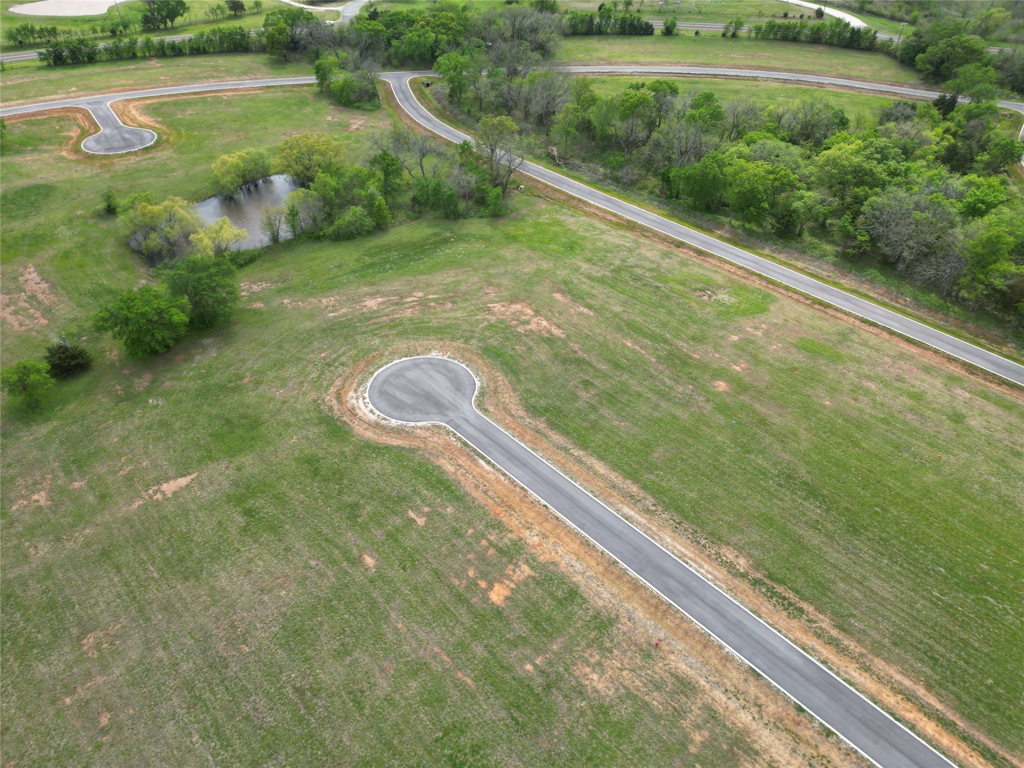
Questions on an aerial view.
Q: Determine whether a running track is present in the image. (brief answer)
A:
No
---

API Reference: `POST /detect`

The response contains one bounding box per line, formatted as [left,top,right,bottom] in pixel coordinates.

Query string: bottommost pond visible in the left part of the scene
[133,176,310,268]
